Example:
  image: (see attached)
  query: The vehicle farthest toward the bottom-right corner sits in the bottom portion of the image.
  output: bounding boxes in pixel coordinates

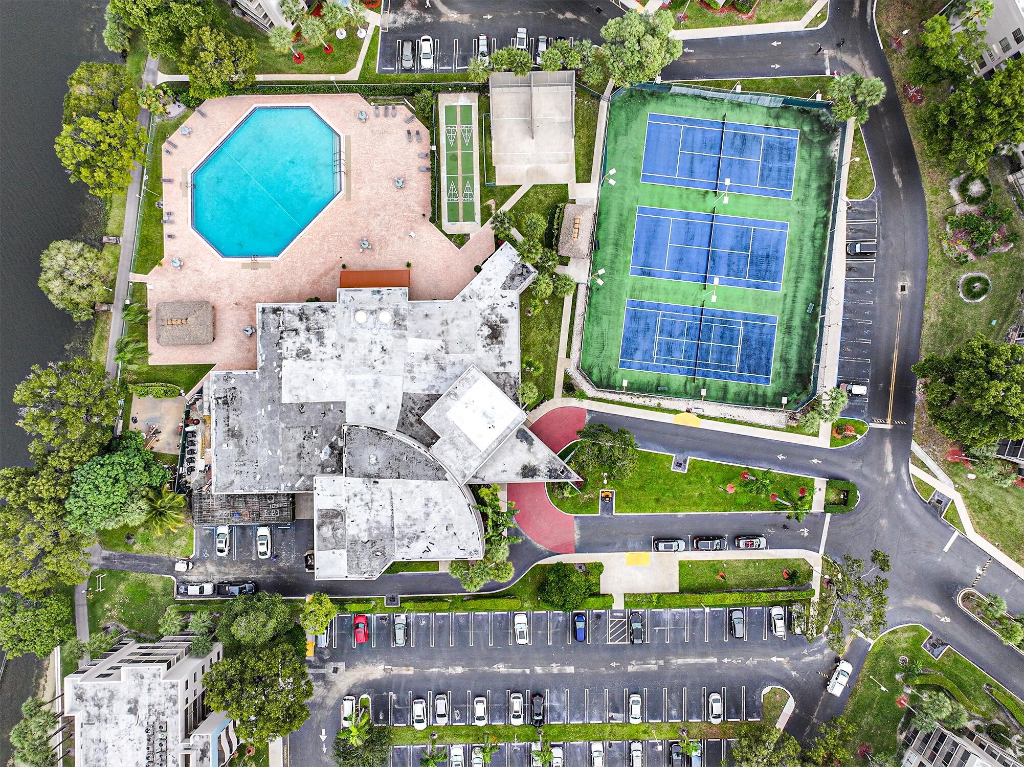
[826,660,854,700]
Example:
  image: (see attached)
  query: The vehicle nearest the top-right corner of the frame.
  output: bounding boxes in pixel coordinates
[845,242,878,255]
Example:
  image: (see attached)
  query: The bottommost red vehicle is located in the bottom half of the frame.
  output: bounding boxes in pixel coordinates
[354,613,368,643]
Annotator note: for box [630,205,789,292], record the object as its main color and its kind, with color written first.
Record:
blue tennis court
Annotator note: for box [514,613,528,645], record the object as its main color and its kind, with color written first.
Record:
white car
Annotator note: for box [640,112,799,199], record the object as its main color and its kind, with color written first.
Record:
blue tennis court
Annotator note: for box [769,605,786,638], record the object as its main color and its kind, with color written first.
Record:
white car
